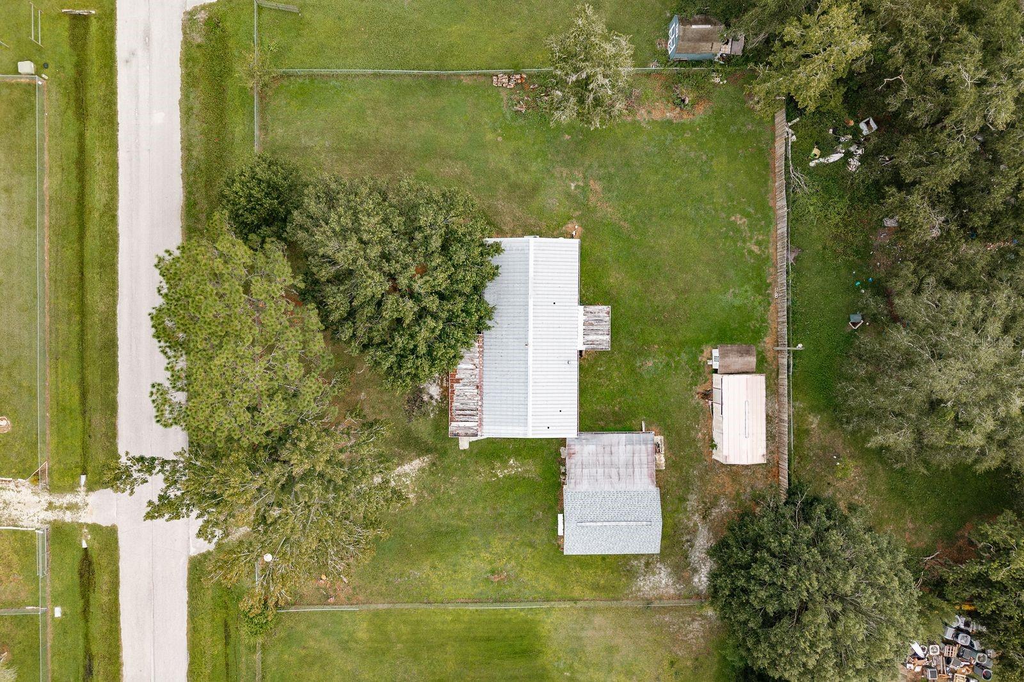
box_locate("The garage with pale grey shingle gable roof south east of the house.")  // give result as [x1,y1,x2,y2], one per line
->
[564,484,665,555]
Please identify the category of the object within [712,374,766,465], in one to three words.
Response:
building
